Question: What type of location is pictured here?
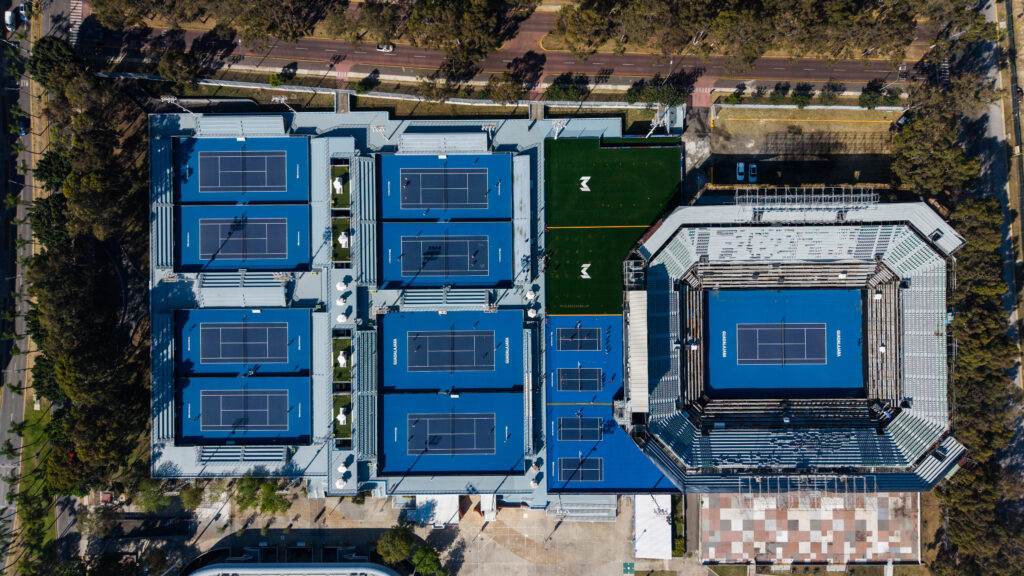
sports ground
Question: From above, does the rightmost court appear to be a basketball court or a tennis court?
tennis court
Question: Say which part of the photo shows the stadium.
right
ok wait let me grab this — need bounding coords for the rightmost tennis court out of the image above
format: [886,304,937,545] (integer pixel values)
[704,287,862,400]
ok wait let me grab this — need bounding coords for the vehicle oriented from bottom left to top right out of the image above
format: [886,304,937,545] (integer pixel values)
[894,113,909,130]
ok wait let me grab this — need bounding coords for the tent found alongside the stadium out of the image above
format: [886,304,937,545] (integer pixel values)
[634,493,671,559]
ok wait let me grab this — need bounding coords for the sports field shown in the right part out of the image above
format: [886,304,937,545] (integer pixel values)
[546,137,684,315]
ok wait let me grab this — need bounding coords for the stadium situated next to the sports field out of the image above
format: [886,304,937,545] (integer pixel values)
[611,188,970,509]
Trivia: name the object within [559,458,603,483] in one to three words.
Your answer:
sports court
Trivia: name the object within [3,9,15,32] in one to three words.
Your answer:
vehicle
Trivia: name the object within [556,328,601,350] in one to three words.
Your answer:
sports court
